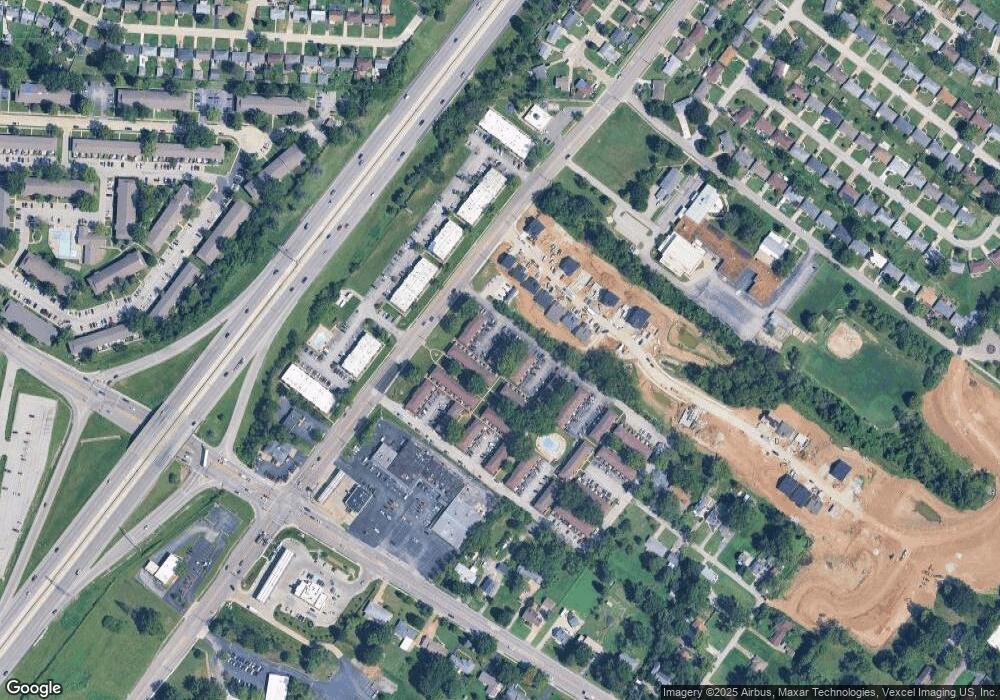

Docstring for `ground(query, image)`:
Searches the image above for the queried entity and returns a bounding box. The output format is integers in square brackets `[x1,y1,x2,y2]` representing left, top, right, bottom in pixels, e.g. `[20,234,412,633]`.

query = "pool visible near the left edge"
[49,227,79,260]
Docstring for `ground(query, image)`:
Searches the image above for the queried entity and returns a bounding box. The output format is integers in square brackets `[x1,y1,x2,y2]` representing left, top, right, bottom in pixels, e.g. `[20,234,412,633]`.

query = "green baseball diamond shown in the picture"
[805,309,925,416]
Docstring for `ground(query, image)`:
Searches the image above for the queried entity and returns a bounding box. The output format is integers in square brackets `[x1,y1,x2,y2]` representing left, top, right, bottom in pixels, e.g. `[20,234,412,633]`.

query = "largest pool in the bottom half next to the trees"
[536,433,566,462]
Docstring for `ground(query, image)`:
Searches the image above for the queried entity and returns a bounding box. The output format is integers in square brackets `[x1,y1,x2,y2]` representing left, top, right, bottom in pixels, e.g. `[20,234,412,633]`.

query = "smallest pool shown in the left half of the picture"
[308,324,333,352]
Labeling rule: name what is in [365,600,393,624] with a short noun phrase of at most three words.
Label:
house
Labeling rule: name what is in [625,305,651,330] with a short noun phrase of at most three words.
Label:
house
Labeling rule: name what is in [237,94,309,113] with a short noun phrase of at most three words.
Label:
building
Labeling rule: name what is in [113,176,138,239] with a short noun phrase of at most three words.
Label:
building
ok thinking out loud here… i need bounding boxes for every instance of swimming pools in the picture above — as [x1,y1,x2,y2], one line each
[49,227,79,260]
[536,433,566,462]
[308,324,333,352]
